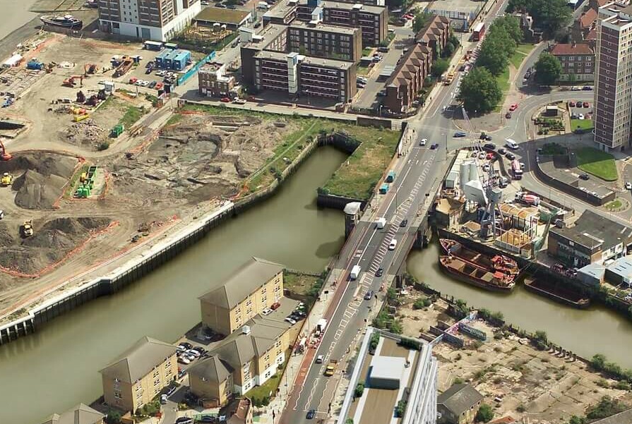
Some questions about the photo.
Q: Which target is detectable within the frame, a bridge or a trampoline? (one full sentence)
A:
It is a bridge that can be seen here.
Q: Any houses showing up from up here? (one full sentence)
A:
Yes, this view includes a house.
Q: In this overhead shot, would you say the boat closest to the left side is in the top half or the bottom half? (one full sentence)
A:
The top half of the photo is where the boat closest to the left side is.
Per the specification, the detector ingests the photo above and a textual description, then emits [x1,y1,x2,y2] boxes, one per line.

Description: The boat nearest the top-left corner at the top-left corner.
[39,7,85,28]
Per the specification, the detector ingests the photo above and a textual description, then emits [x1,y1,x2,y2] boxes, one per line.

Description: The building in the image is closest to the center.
[338,203,362,231]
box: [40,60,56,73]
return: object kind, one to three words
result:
vehicle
